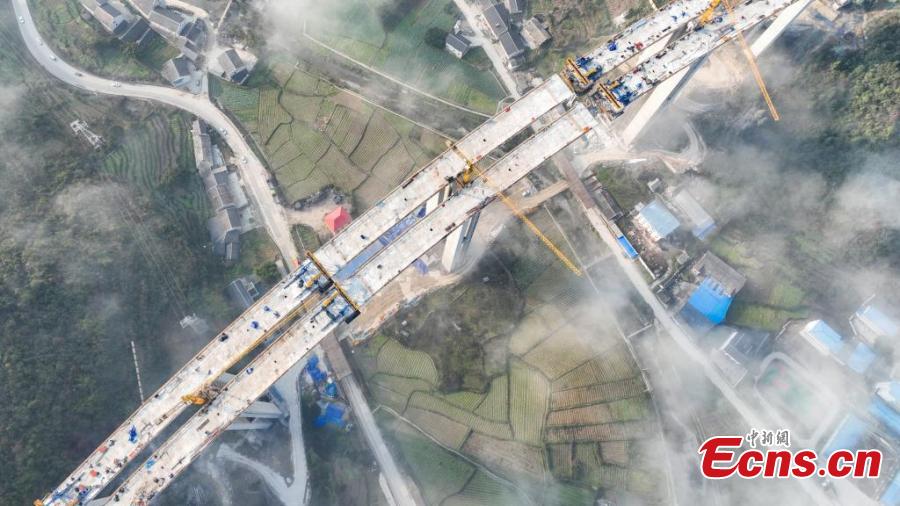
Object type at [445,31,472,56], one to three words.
house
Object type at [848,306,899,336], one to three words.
building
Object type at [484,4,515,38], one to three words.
house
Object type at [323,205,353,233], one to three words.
shed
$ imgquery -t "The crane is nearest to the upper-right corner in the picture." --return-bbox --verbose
[691,0,780,121]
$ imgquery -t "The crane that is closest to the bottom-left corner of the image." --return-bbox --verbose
[182,289,323,412]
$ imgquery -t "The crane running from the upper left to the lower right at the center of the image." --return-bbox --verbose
[446,141,583,274]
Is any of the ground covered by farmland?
Yes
